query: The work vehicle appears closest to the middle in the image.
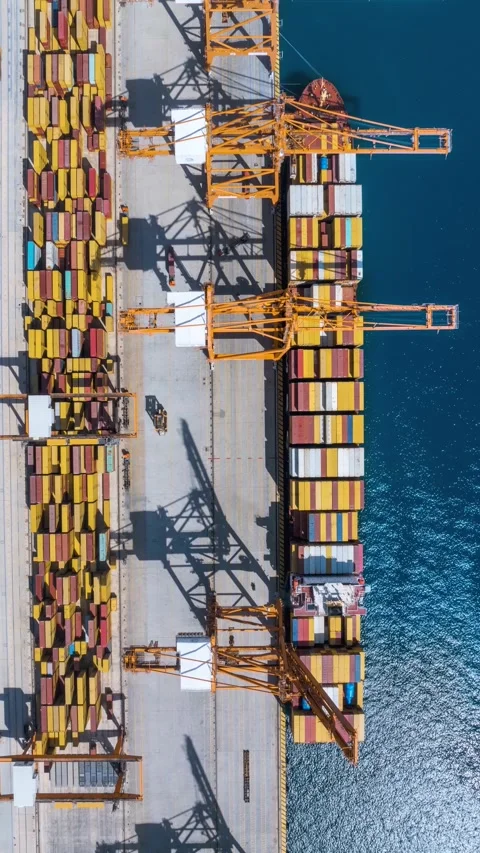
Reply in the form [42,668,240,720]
[151,409,167,437]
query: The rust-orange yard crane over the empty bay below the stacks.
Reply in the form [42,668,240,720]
[0,728,141,807]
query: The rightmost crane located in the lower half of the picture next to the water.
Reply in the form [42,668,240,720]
[122,592,355,766]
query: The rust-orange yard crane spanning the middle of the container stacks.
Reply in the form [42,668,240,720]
[0,392,137,446]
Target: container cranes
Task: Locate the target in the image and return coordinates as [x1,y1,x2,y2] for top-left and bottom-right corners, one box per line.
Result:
[122,592,355,766]
[0,728,141,807]
[116,86,454,214]
[118,285,459,364]
[0,392,137,446]
[171,0,286,77]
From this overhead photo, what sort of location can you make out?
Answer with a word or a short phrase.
port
